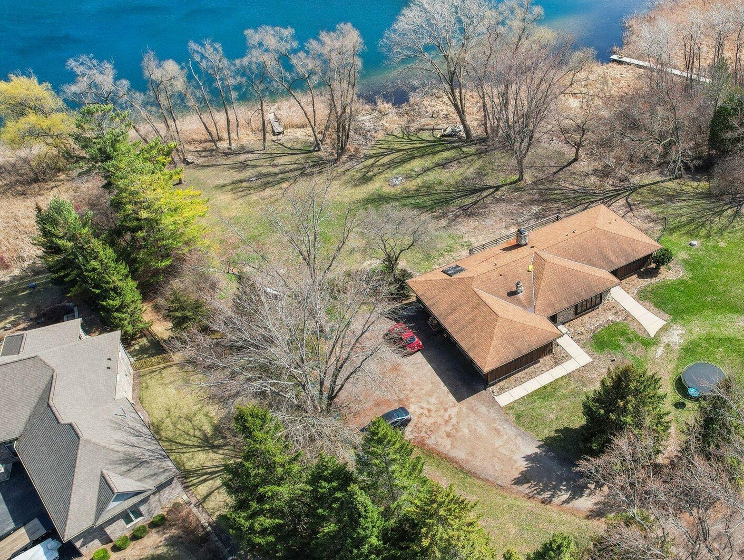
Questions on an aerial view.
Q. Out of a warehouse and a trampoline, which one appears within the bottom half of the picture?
trampoline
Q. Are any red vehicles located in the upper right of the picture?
No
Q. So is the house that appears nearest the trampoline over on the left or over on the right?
right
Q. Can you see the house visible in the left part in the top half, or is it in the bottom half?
bottom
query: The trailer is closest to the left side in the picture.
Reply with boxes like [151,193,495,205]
[0,511,55,560]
